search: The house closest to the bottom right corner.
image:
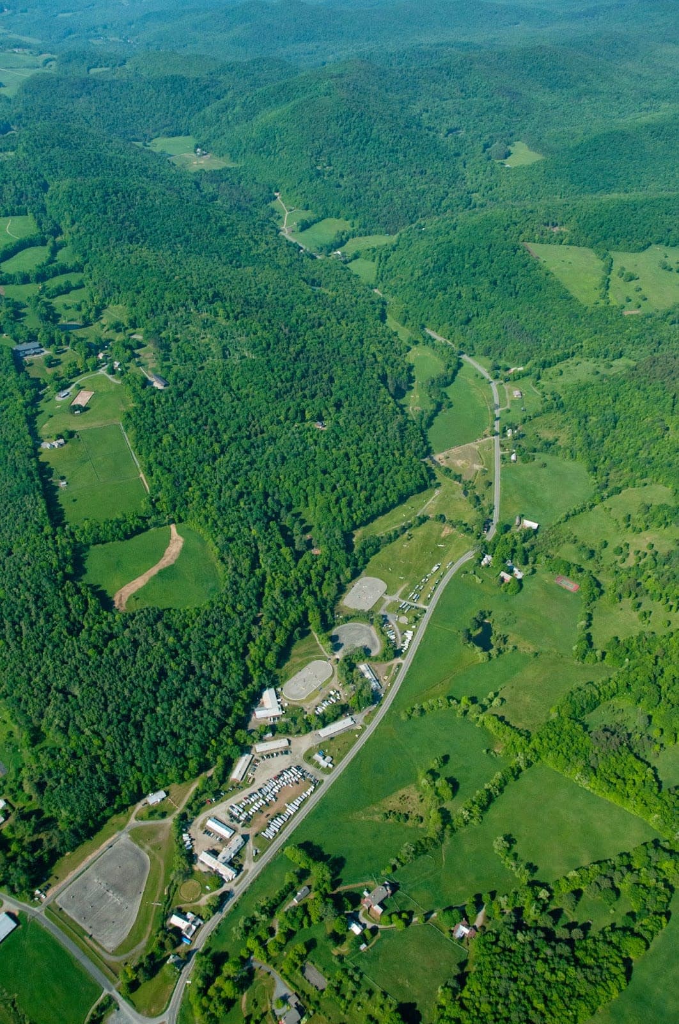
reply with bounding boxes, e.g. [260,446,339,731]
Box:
[452,921,478,942]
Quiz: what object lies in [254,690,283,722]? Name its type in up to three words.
building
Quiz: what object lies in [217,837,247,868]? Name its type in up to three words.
barn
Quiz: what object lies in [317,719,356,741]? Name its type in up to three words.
barn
